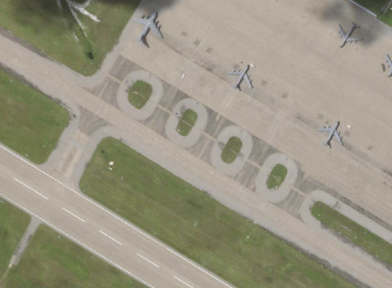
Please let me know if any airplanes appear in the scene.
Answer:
Yes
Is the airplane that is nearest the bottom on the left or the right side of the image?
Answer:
right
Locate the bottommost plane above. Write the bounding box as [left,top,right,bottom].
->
[320,121,344,146]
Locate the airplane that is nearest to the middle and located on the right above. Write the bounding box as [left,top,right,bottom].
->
[229,63,254,89]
